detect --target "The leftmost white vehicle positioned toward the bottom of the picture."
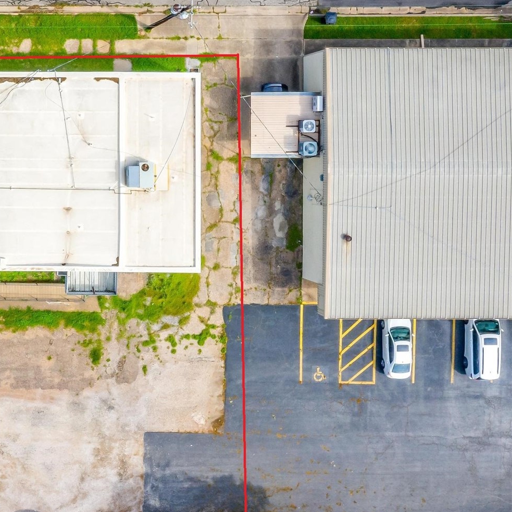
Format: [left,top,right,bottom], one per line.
[379,321,417,379]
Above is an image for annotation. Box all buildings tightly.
[0,67,200,296]
[305,39,512,321]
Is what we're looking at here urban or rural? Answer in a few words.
urban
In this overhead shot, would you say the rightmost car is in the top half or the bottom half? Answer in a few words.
bottom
